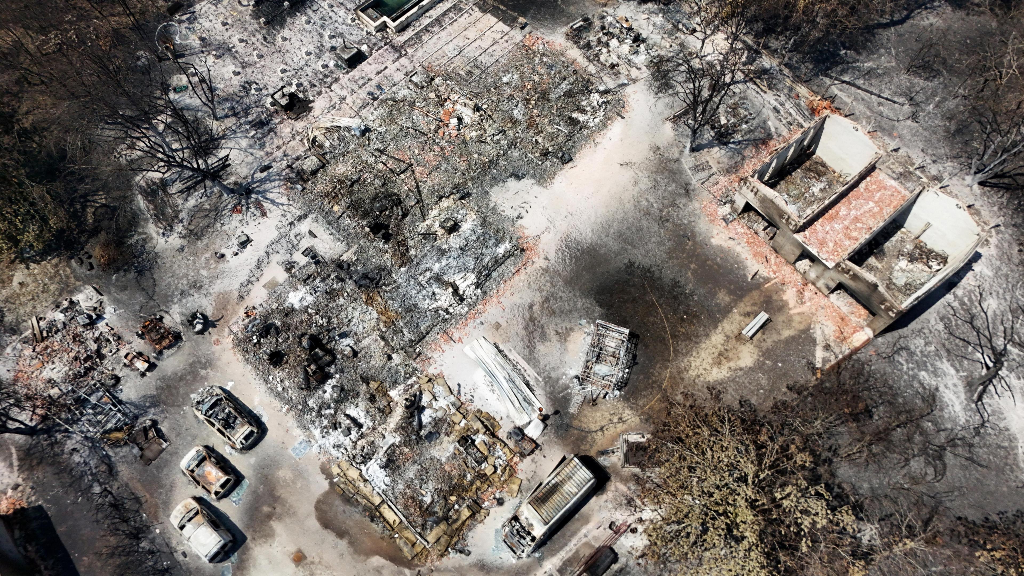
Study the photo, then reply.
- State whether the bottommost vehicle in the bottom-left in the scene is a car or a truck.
car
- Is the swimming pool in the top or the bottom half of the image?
top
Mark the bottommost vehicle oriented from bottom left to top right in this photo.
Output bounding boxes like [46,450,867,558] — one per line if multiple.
[502,454,603,556]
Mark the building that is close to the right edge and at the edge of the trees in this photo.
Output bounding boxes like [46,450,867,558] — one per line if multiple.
[729,114,990,338]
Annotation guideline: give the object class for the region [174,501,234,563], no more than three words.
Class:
car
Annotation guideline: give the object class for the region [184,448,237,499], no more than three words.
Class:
car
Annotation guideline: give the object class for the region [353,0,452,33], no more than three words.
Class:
swimming pool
